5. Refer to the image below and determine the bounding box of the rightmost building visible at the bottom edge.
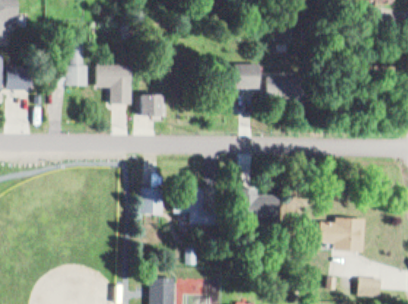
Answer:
[358,276,381,297]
